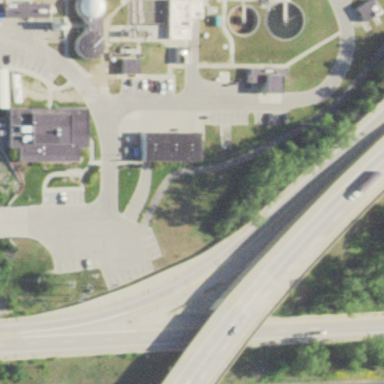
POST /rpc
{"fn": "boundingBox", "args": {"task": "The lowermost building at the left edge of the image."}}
[8,108,90,162]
